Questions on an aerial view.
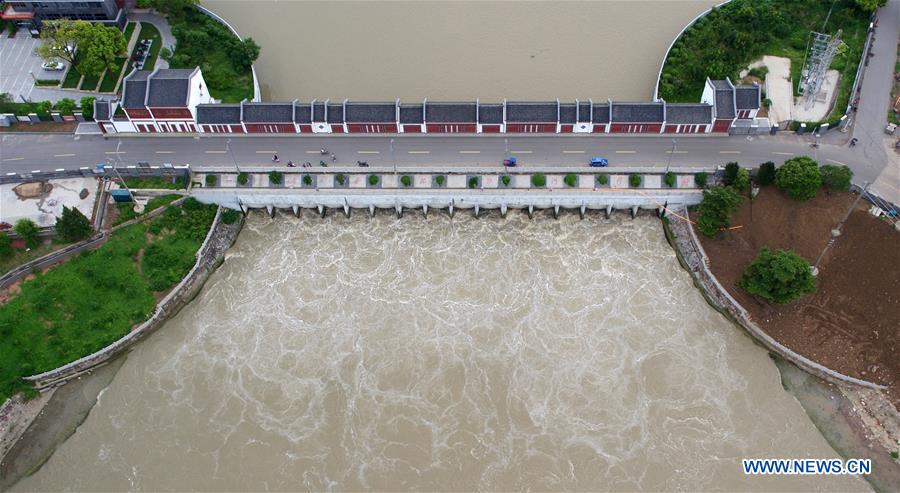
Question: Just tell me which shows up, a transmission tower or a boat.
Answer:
transmission tower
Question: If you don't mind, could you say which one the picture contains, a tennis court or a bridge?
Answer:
bridge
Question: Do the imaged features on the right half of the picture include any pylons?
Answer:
Yes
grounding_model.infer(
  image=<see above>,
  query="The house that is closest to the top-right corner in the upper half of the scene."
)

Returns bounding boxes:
[738,84,764,120]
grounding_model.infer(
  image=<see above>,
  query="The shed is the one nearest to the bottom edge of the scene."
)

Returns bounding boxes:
[106,189,132,207]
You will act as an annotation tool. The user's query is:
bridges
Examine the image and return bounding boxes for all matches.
[180,121,710,224]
